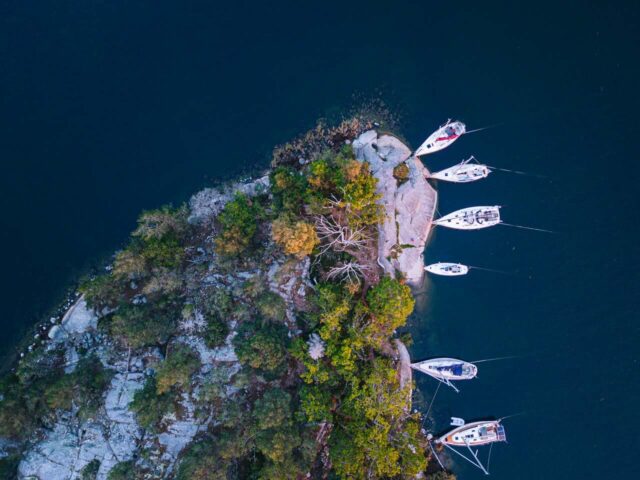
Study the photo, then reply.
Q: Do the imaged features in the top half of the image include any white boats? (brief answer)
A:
Yes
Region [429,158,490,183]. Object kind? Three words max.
boat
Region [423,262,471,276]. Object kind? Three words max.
boat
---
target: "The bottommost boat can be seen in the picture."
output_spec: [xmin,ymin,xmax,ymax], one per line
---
[436,421,509,479]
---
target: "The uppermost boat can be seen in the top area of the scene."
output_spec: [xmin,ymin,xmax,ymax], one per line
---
[414,122,466,156]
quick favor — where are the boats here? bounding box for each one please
[409,358,481,391]
[451,416,465,426]
[432,204,503,229]
[436,421,509,479]
[423,262,471,276]
[429,158,490,183]
[414,122,466,156]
